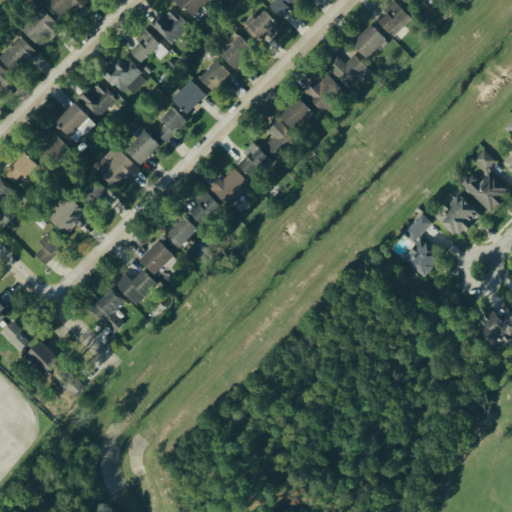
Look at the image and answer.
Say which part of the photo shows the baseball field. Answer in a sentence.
The baseball field sits in the bottom left section of the image.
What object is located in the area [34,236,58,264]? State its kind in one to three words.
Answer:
house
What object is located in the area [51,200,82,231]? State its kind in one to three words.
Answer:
house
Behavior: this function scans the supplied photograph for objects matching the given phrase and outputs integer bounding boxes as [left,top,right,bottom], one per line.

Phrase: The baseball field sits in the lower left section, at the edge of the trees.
[0,372,40,481]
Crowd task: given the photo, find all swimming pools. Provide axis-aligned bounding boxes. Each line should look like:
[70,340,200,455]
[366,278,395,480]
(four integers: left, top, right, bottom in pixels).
[161,295,175,307]
[394,240,408,255]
